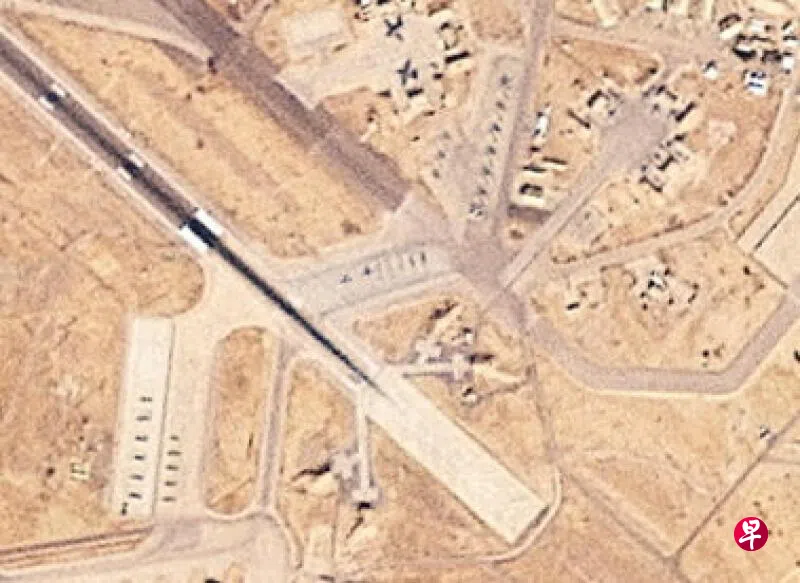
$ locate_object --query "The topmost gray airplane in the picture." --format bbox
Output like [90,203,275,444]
[383,18,403,37]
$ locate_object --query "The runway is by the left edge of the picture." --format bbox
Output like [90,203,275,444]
[0,34,198,229]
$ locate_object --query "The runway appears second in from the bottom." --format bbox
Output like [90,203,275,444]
[187,214,386,392]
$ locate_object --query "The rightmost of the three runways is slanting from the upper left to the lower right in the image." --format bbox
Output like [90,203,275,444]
[313,306,550,546]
